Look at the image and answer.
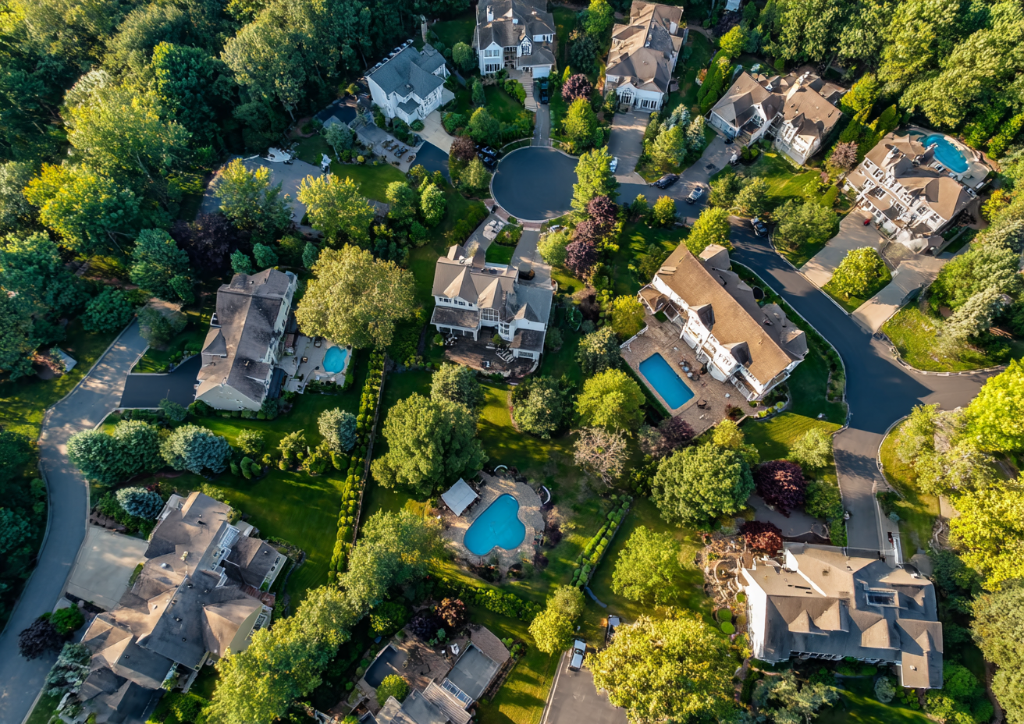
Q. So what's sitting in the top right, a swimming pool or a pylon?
swimming pool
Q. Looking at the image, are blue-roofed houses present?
Yes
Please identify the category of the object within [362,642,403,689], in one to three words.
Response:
swimming pool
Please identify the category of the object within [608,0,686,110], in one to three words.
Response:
house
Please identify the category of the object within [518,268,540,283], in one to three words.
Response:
car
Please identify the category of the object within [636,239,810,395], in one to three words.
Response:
house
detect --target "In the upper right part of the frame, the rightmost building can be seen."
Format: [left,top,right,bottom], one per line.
[840,138,968,253]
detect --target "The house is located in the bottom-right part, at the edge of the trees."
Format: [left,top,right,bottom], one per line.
[739,542,946,692]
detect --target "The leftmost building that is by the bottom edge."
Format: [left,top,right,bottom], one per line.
[71,491,293,724]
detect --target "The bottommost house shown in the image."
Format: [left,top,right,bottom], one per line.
[364,642,499,724]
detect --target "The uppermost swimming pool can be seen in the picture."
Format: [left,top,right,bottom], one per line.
[916,132,971,175]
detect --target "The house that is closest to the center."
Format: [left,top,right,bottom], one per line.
[431,239,552,356]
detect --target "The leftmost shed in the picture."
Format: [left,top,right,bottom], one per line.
[57,345,85,372]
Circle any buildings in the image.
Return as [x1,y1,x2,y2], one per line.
[739,542,946,692]
[840,138,968,253]
[365,38,448,127]
[608,0,686,110]
[71,491,293,724]
[57,345,85,372]
[476,0,557,78]
[196,263,298,405]
[705,66,851,164]
[364,642,499,724]
[636,239,810,395]
[723,0,741,20]
[431,239,552,356]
